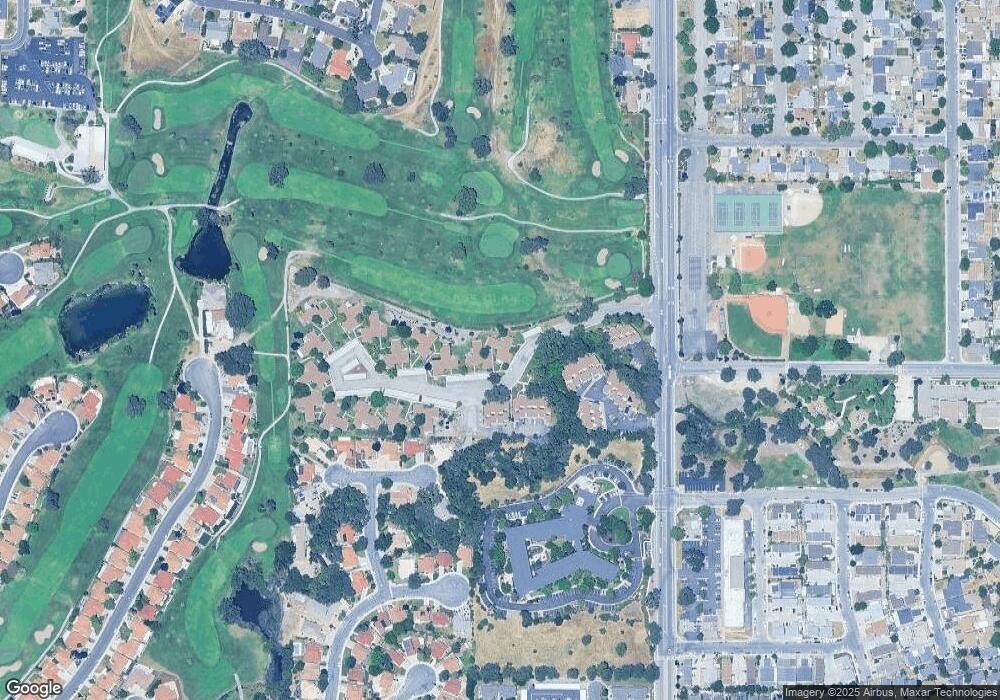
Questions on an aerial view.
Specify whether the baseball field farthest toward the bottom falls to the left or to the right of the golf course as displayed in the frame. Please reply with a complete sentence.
In the image, the baseball field farthest toward the bottom sits on the right side of the golf course.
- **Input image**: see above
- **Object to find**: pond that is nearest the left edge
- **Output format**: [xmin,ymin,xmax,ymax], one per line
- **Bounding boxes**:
[60,284,152,358]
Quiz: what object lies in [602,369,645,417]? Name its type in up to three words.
building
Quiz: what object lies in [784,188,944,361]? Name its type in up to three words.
sports field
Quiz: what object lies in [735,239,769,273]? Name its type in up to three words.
baseball field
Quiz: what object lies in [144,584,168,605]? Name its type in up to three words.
house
